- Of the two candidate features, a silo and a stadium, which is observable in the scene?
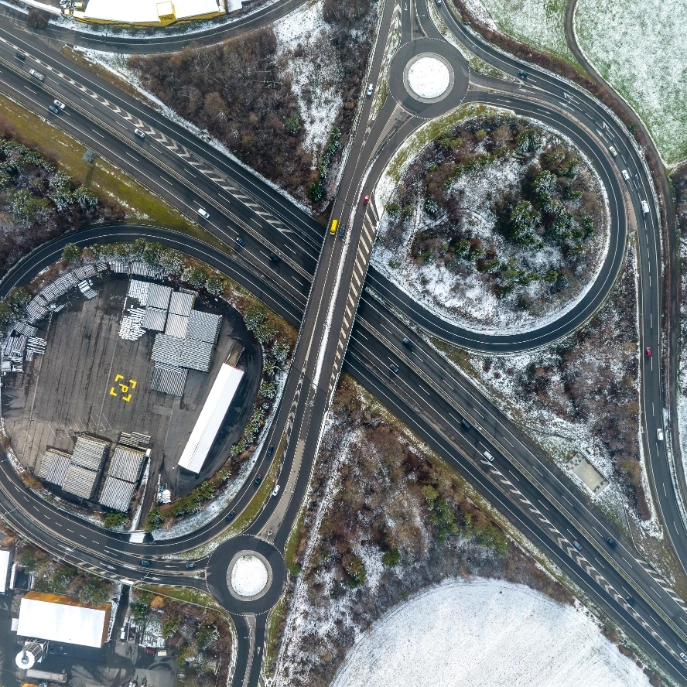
silo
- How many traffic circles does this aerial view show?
2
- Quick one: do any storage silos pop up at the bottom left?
Yes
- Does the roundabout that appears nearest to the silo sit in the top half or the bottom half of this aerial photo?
bottom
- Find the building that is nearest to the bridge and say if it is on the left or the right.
left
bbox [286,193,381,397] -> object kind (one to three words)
bridge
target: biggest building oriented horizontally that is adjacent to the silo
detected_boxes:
[11,592,112,648]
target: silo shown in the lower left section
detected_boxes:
[15,637,53,665]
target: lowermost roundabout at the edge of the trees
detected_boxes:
[207,535,286,614]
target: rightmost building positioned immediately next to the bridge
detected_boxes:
[178,362,247,474]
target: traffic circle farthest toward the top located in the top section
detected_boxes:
[390,39,469,117]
